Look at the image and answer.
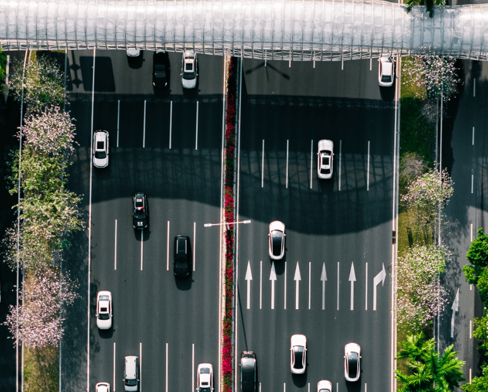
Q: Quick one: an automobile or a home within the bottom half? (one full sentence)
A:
It is an automobile that can be seen within the bottom half.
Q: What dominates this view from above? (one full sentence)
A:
The scene is dominated by paved ground.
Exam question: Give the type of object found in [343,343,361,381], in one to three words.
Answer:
car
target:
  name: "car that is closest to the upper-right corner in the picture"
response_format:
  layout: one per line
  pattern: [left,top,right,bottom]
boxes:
[378,61,395,91]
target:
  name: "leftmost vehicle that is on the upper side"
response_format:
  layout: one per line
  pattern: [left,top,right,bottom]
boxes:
[91,130,109,169]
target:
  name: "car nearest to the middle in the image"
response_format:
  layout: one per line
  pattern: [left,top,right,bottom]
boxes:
[267,220,287,260]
